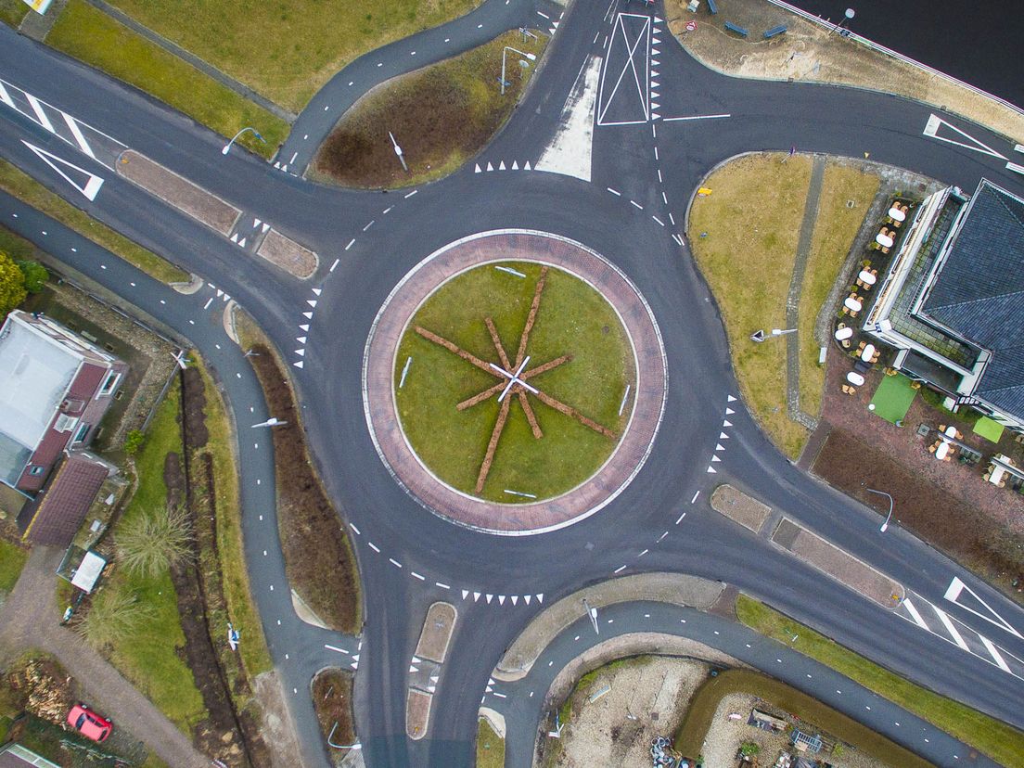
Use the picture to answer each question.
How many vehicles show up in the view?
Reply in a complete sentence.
I count just 1 vehicle.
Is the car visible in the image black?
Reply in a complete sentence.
No, the car is actually red.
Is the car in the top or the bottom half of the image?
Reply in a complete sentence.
The bottom half of the photo is where the car is.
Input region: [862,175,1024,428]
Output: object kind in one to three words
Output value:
building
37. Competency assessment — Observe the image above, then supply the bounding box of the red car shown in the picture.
[68,702,116,741]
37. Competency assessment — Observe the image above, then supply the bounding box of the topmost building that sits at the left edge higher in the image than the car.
[0,314,128,488]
